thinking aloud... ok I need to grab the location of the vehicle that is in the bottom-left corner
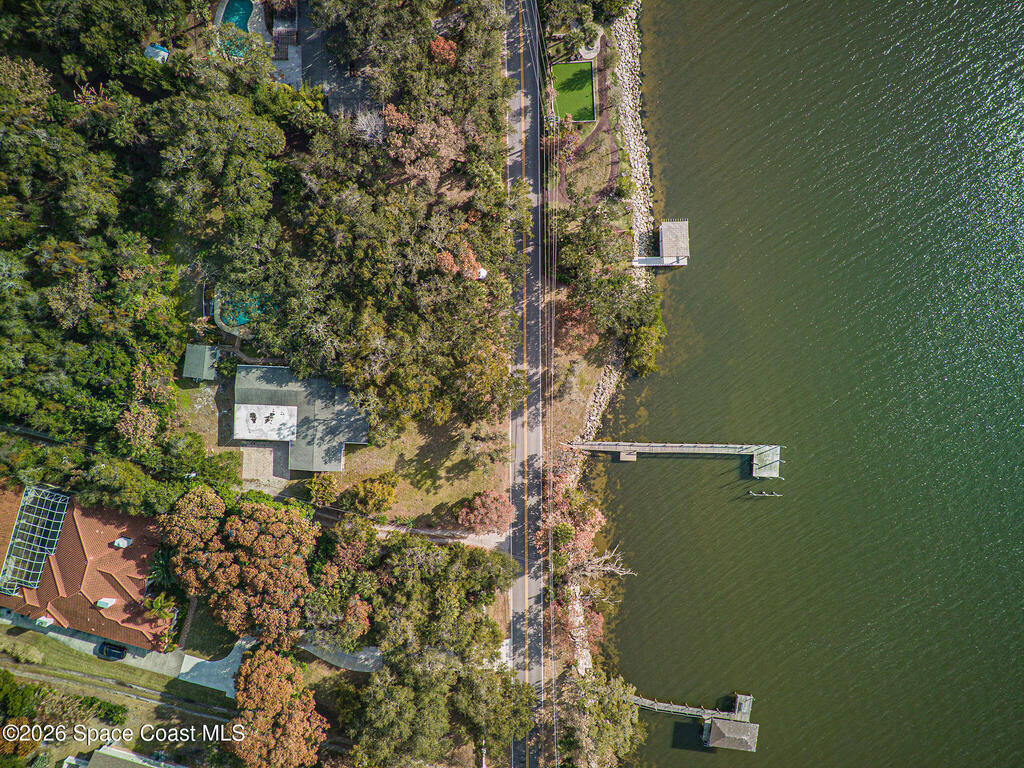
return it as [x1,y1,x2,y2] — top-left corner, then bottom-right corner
[97,642,127,660]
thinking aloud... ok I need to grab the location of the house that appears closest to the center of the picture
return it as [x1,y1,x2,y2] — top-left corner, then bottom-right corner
[233,364,369,472]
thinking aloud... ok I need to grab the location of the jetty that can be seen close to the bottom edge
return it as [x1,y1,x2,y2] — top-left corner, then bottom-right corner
[621,691,760,755]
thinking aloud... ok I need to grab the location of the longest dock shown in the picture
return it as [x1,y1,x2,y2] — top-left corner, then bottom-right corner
[566,441,788,481]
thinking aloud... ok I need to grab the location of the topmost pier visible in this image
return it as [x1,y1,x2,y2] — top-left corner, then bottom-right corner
[632,218,689,266]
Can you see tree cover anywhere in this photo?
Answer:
Yes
